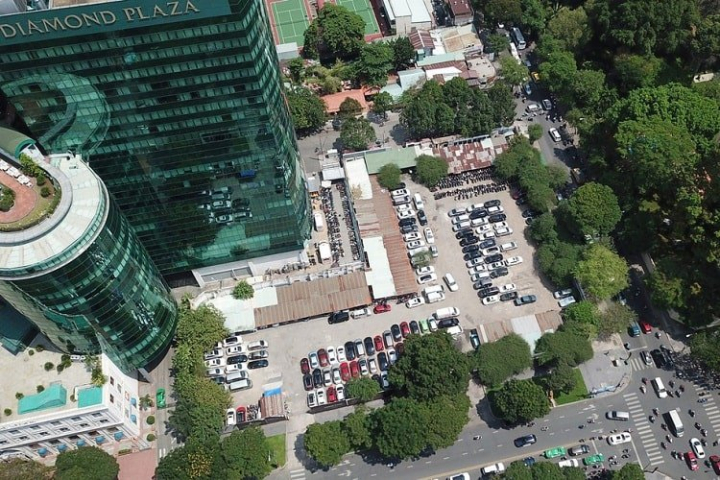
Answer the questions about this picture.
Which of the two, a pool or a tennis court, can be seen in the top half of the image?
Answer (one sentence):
Visible in the top half of the image is a tennis court.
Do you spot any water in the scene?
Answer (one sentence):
No, the scene doesn't show any water.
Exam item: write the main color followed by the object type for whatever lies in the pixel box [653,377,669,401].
white vehicle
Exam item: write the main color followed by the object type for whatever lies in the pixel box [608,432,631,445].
white vehicle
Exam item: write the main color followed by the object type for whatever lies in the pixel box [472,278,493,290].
gray vehicle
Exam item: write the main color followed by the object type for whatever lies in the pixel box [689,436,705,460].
white car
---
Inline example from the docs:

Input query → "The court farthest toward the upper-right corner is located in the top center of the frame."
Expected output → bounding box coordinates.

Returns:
[340,0,399,42]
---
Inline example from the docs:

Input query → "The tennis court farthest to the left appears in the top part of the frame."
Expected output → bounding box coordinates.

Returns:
[269,0,318,54]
